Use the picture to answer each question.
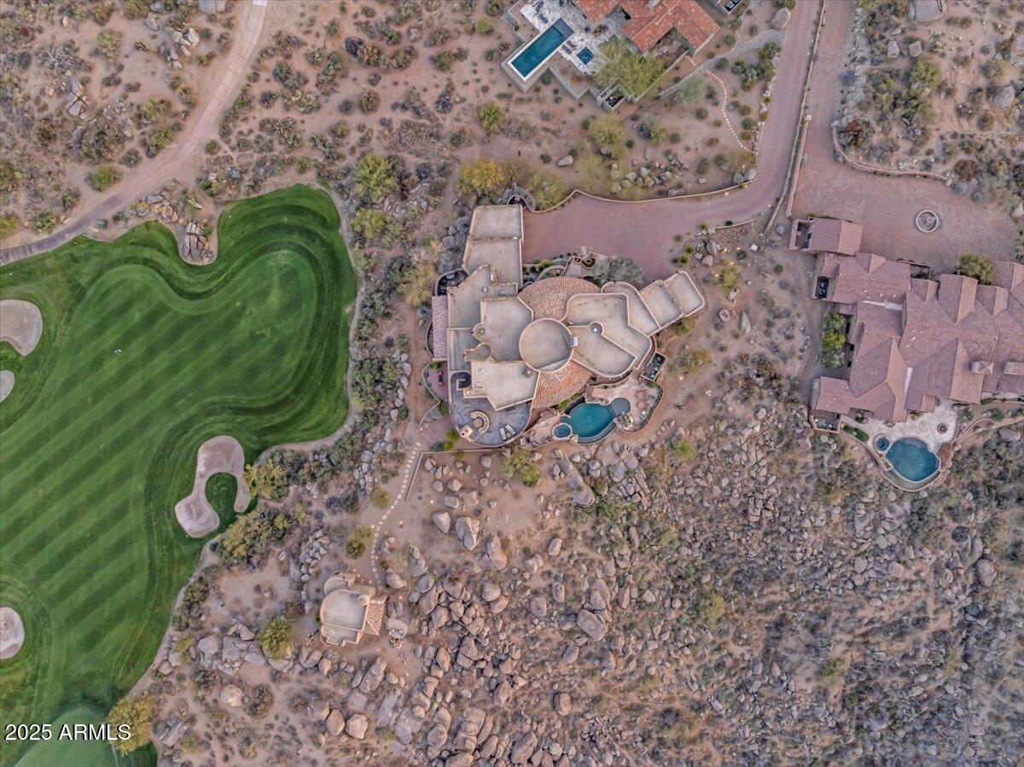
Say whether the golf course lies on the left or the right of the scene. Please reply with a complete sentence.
You can find the golf course on the left side of the picture.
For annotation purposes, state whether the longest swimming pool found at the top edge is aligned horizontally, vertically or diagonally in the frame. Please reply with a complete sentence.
The longest swimming pool found at the top edge is oriented diagonally.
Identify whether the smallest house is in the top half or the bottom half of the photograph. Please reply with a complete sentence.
You can find the smallest house in the bottom half.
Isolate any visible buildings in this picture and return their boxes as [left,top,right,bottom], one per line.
[432,205,704,446]
[319,569,391,648]
[568,0,721,99]
[784,218,1024,433]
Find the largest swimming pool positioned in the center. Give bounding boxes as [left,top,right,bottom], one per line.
[559,395,632,443]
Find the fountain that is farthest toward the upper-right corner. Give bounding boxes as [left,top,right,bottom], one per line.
[916,209,940,232]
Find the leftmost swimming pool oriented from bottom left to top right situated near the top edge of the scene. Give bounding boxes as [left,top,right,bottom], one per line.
[508,13,578,82]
